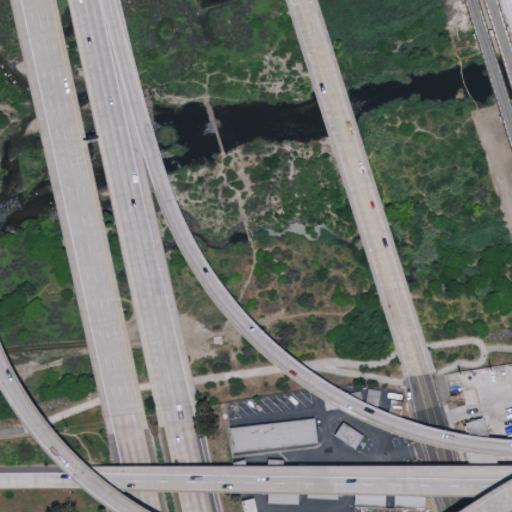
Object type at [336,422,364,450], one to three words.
building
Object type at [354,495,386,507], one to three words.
shed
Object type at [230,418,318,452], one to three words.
building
